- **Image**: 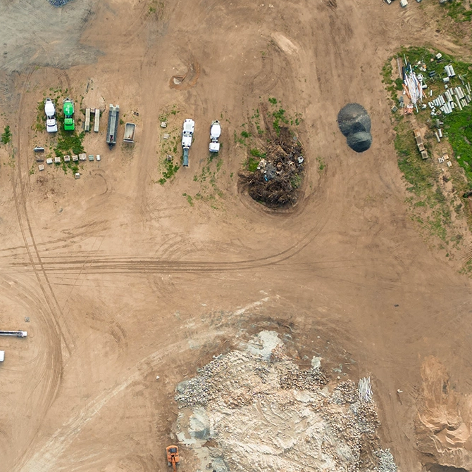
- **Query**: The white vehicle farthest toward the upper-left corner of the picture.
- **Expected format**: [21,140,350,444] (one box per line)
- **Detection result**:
[44,94,57,133]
